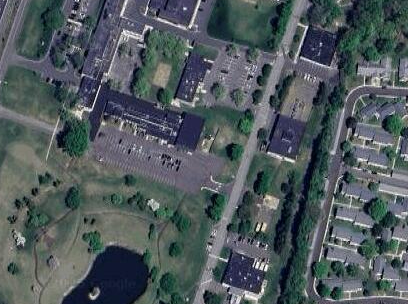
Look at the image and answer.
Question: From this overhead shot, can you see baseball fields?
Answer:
No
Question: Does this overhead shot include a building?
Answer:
Yes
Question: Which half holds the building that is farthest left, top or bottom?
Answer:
top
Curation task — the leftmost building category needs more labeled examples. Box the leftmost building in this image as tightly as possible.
[79,0,130,110]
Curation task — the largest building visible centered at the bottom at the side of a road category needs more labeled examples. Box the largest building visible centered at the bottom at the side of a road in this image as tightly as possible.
[222,249,266,294]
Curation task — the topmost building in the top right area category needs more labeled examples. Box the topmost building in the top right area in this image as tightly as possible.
[301,26,337,66]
